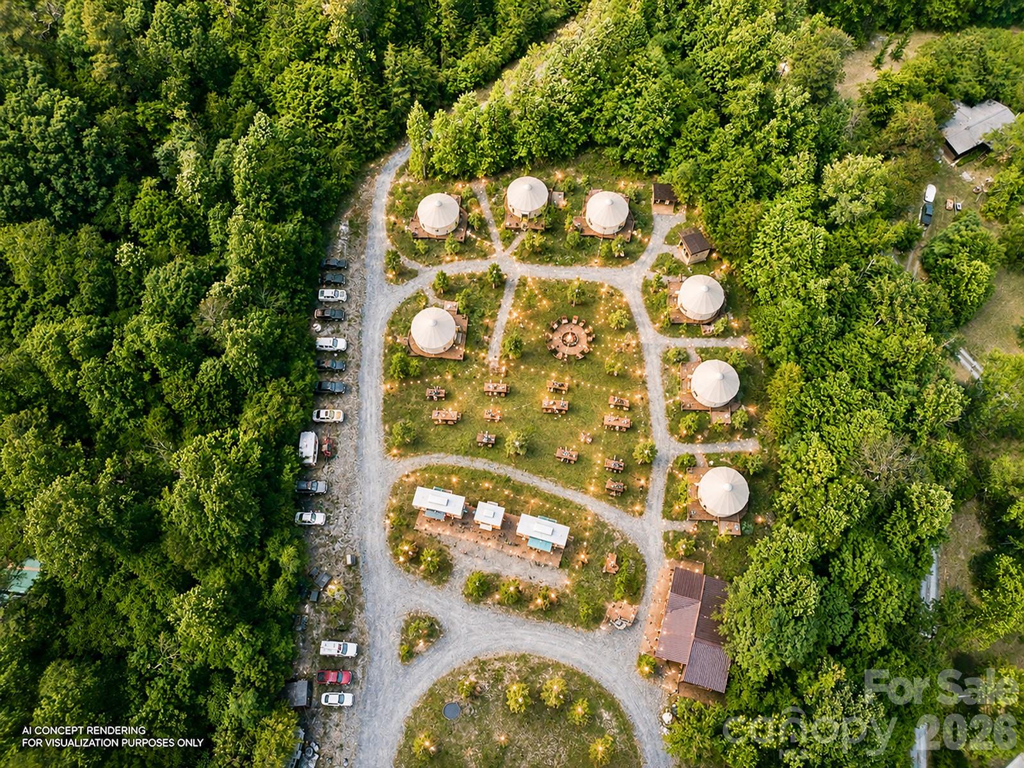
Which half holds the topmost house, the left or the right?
right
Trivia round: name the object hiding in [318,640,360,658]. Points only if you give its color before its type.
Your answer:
white vehicle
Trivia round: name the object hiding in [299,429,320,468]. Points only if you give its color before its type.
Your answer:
white camper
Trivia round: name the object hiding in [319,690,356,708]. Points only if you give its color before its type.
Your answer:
white car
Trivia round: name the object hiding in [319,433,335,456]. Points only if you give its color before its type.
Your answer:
red work vehicle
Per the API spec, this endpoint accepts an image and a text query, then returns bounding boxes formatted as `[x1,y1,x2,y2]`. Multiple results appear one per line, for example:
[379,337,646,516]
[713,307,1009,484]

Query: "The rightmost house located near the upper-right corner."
[945,99,1015,162]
